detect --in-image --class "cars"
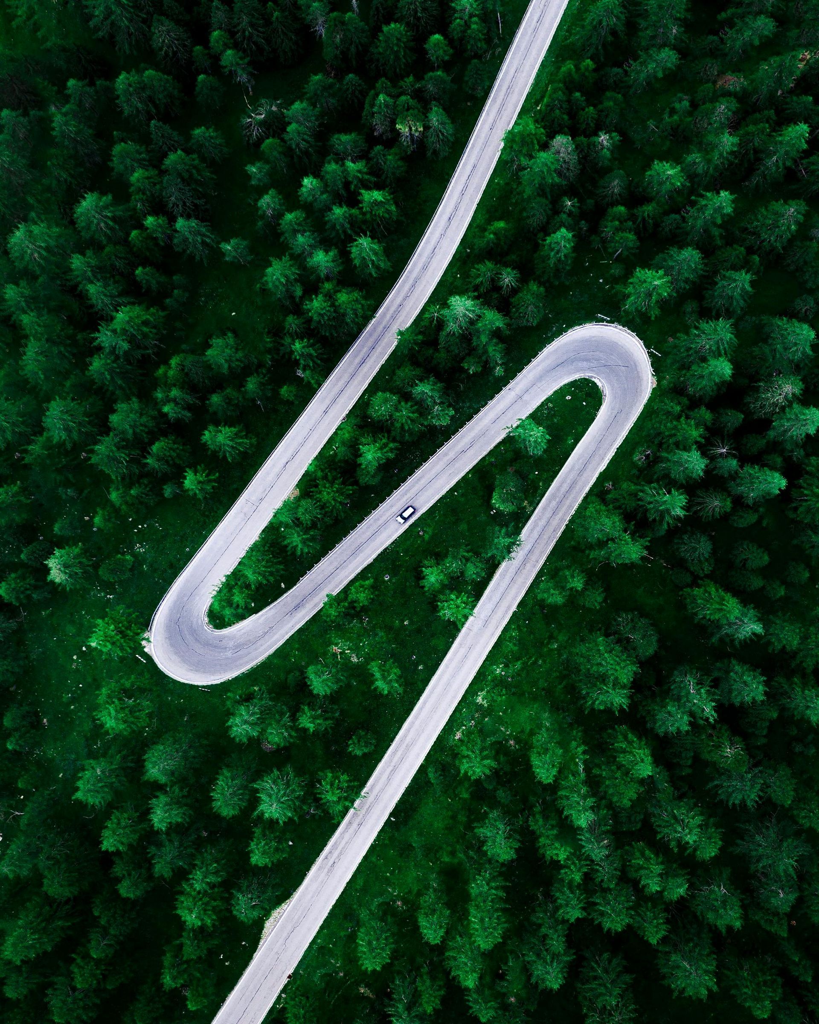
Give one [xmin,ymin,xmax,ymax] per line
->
[398,504,416,522]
